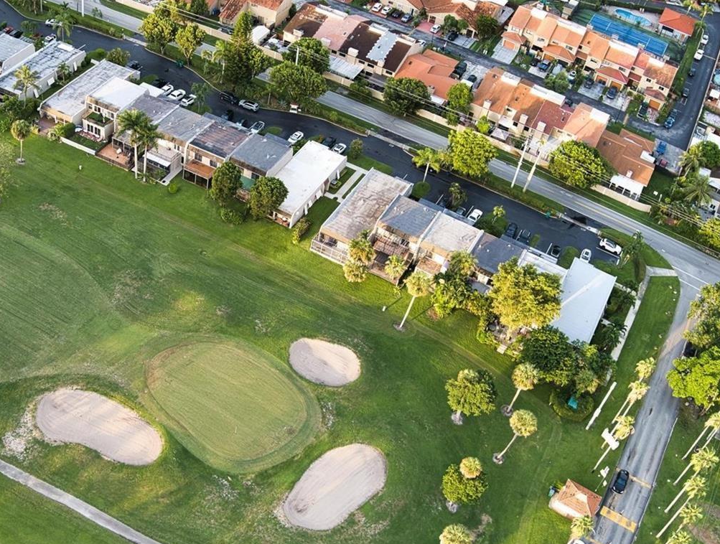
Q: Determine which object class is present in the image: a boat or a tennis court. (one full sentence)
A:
I can see a tennis court in this picture.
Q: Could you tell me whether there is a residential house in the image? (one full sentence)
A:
Yes, there's a residential house here.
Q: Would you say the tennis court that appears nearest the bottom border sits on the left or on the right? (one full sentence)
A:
The tennis court that appears nearest the bottom border is on the right side of the image.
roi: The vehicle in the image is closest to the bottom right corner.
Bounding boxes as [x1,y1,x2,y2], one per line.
[610,468,629,496]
